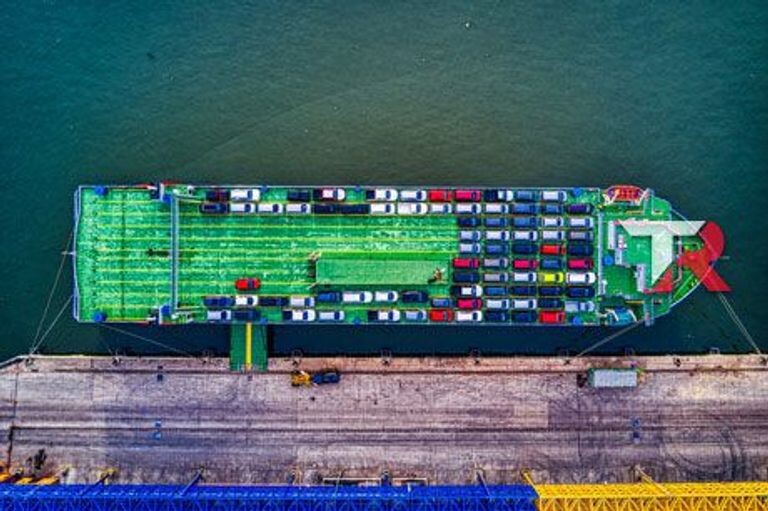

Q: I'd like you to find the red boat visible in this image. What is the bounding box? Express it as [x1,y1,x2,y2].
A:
[605,185,645,202]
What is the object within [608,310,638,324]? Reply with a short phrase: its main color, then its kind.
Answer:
blue boat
